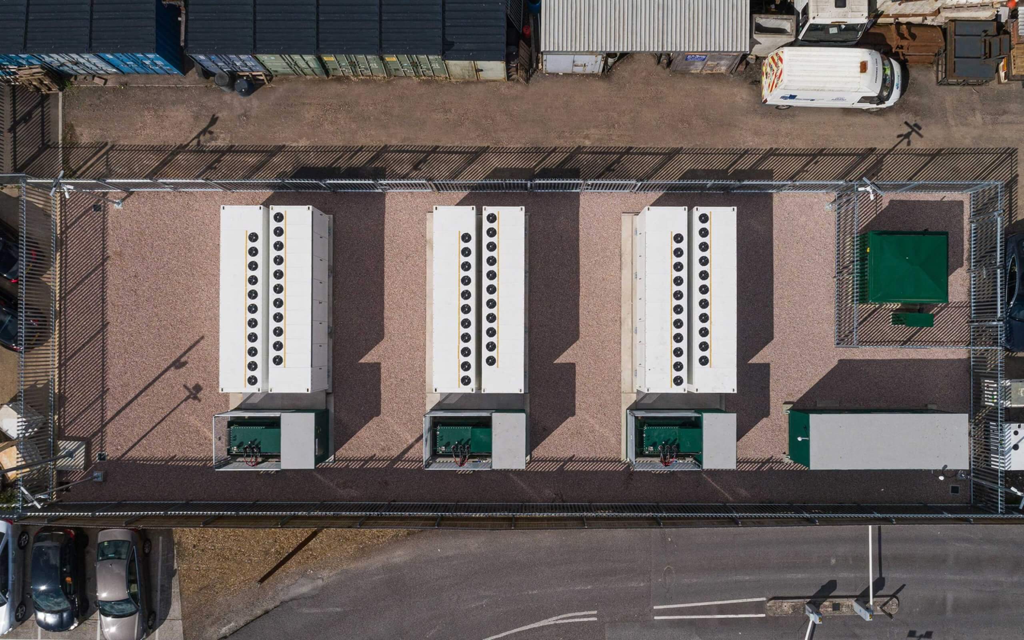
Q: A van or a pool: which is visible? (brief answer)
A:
van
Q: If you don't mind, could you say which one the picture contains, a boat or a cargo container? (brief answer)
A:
cargo container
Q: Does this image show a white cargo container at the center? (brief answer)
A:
Yes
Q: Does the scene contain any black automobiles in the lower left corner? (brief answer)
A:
Yes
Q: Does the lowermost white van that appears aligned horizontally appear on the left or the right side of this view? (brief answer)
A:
right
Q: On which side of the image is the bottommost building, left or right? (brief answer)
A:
right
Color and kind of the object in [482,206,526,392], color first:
white shipping container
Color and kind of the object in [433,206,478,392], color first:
white shipping container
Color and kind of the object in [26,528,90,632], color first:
black car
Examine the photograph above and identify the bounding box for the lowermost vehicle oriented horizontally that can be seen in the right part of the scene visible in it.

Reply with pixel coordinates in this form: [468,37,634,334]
[763,46,900,112]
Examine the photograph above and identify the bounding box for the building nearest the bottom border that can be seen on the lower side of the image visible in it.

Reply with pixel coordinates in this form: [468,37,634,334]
[786,409,968,469]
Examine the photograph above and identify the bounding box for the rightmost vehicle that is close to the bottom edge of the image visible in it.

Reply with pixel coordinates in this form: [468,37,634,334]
[88,529,153,640]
